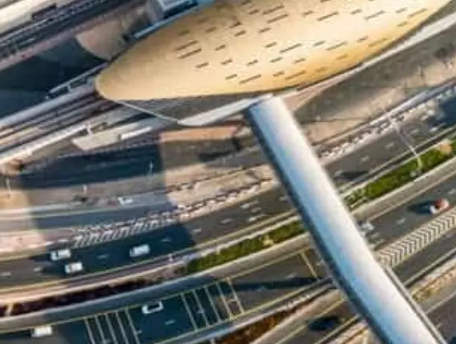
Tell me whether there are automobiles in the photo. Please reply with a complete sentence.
Yes, the photo shows an automobile.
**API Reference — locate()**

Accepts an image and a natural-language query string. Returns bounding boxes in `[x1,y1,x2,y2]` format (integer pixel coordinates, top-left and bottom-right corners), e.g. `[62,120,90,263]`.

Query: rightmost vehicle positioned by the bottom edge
[317,313,341,331]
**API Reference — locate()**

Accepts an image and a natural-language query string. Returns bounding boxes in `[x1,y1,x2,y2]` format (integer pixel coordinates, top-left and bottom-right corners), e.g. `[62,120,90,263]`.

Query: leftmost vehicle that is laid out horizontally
[28,323,55,339]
